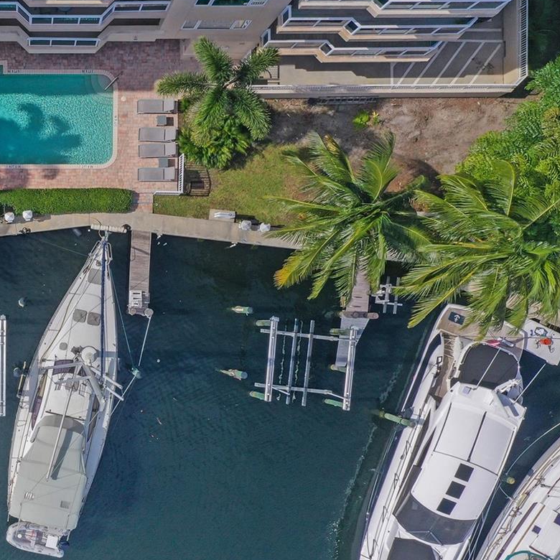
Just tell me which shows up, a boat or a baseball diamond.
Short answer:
boat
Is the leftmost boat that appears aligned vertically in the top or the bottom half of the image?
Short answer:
bottom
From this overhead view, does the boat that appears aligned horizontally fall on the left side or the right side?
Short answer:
left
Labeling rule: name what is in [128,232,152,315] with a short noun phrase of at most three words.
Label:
pier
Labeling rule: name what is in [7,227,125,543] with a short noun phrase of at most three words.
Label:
boat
